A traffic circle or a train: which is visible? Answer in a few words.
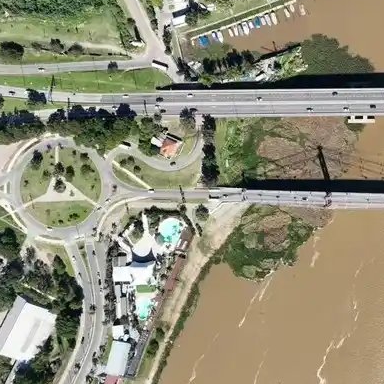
traffic circle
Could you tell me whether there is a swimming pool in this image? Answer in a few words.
Yes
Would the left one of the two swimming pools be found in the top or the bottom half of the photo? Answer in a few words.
bottom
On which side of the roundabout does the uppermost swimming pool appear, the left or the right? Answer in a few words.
on the right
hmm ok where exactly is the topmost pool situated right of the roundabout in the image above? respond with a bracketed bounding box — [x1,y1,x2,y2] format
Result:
[157,217,186,246]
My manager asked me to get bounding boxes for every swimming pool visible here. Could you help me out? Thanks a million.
[135,293,158,320]
[157,217,186,246]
